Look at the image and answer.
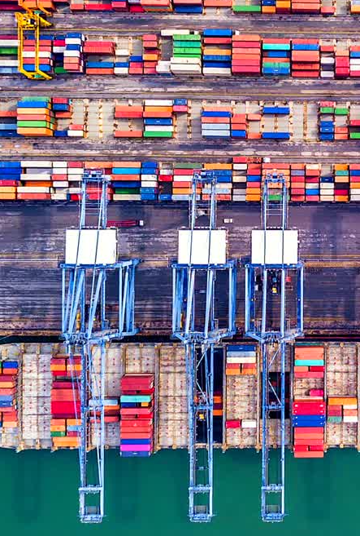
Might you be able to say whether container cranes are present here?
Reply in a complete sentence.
Yes, this view includes a container crane.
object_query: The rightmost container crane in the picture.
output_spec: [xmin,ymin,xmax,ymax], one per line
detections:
[242,162,314,524]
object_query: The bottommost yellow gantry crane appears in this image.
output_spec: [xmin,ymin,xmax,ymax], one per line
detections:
[16,12,57,84]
